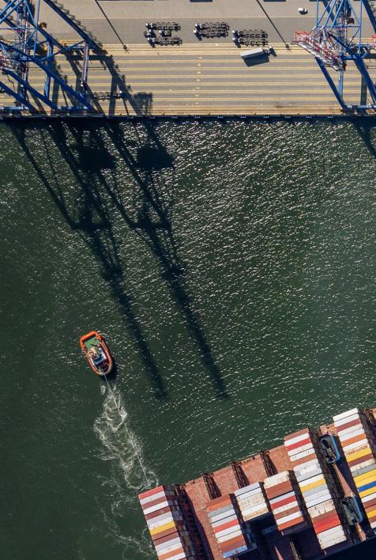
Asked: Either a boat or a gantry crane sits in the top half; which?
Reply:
gantry crane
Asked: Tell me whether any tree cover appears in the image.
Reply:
No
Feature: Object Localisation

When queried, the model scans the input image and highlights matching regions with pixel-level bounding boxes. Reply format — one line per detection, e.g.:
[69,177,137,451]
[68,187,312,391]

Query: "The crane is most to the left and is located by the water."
[0,12,53,109]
